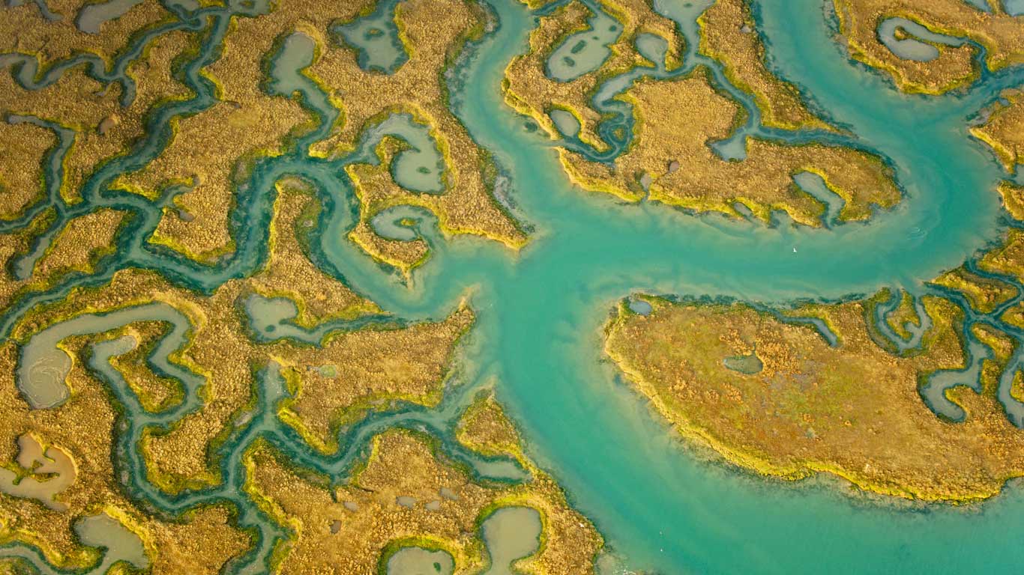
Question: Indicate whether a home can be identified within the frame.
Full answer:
No, I can see no home in this picture.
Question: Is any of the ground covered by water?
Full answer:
Yes, water can be seen from above here.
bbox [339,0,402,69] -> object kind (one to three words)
pond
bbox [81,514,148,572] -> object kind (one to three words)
pond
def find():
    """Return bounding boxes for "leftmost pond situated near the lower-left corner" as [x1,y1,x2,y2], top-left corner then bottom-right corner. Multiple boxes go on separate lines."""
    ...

[0,435,76,511]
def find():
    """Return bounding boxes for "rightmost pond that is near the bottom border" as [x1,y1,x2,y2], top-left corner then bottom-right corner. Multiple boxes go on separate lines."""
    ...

[485,509,539,575]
